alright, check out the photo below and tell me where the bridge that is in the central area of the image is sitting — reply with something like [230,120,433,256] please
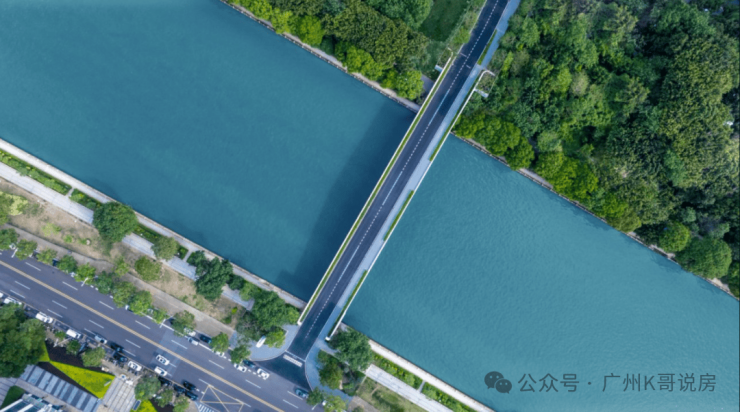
[299,60,481,339]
